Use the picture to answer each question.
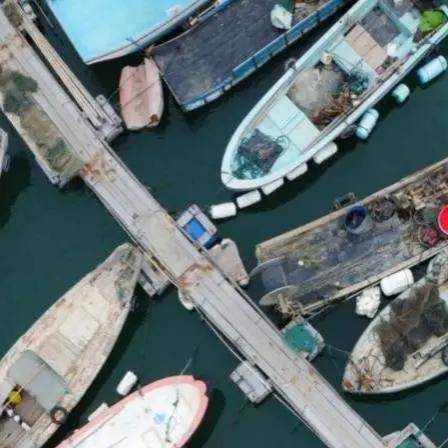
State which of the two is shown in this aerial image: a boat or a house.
boat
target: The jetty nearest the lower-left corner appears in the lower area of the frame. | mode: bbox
[140,255,173,297]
